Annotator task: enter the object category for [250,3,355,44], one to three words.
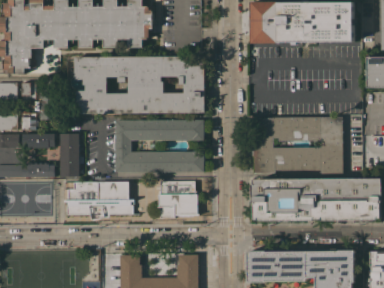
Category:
building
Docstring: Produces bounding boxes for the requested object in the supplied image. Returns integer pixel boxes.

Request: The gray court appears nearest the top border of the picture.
[0,182,54,216]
